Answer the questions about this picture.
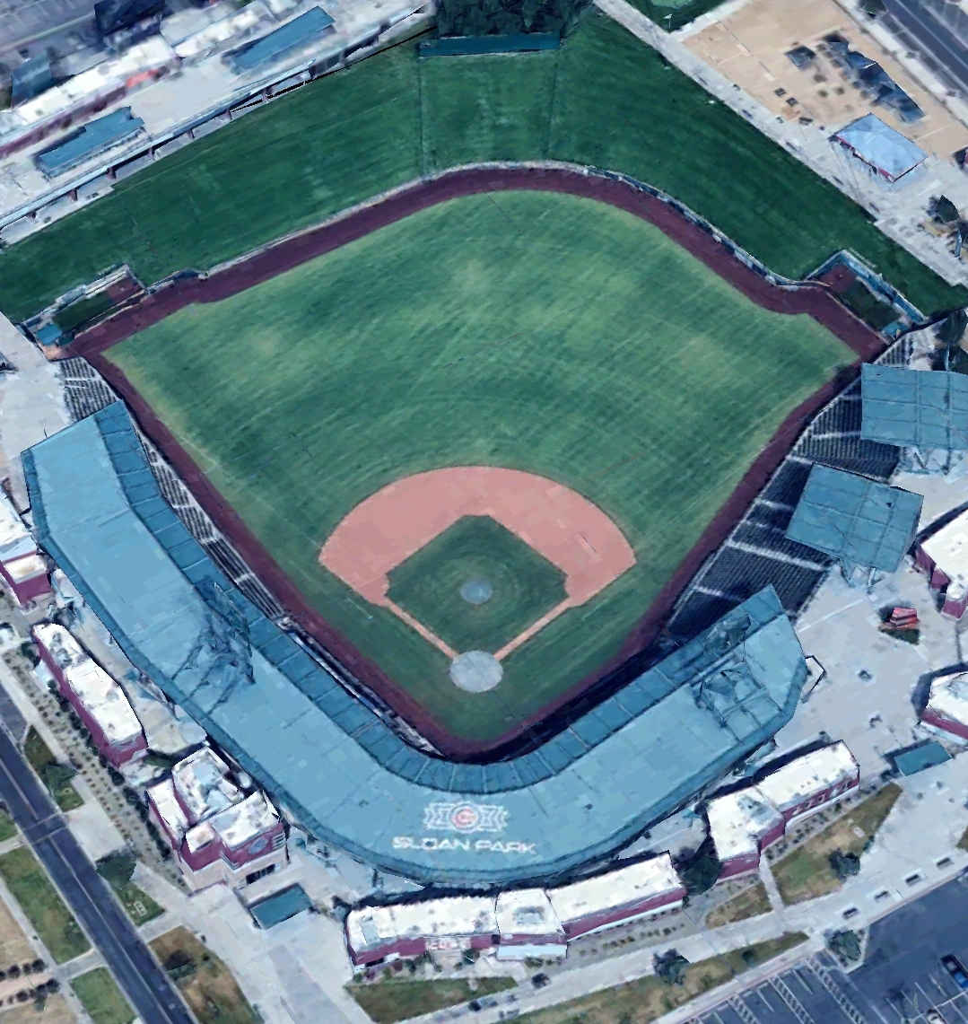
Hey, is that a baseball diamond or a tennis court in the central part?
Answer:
baseball diamond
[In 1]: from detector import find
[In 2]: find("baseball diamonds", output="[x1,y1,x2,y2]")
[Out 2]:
[26,167,884,759]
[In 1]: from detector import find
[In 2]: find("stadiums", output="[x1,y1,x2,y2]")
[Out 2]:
[21,400,807,899]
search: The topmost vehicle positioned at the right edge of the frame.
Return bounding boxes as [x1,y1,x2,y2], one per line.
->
[940,954,968,987]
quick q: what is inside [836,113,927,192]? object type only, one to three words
building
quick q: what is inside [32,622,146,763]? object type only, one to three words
building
